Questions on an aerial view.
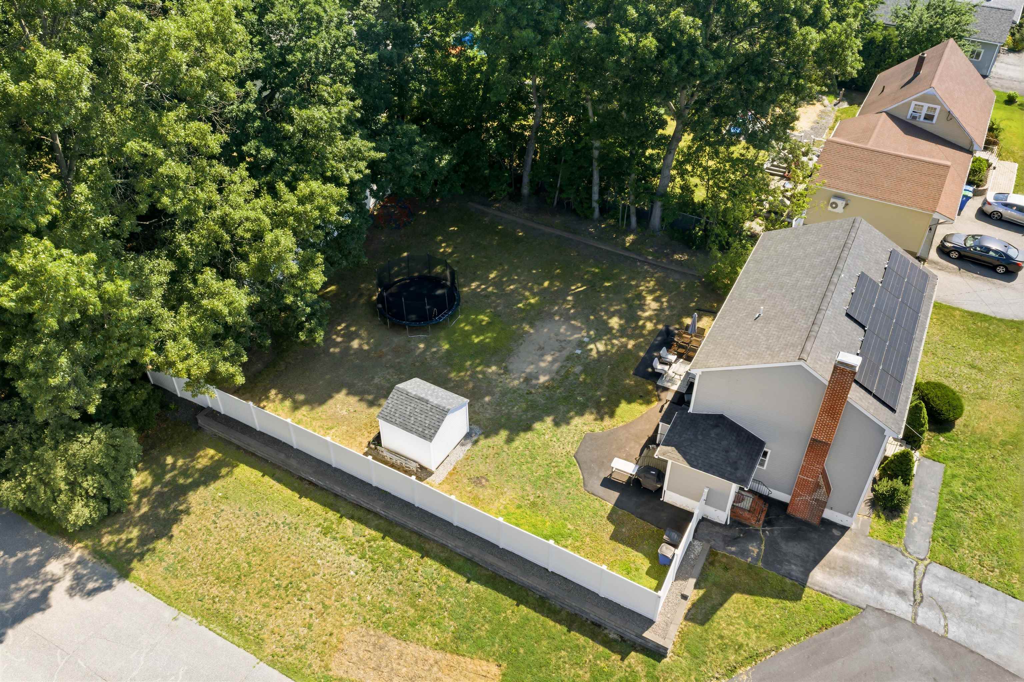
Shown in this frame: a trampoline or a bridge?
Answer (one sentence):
This aerial view contains a trampoline.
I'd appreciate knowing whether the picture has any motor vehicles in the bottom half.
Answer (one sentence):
No, there is no motor vehicle in the bottom half.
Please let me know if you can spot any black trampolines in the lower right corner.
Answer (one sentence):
No, in the lower right corner there is no black trampoline.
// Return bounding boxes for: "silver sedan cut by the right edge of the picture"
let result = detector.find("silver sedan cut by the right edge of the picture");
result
[982,193,1024,226]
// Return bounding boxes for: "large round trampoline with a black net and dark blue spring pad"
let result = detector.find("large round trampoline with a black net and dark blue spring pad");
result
[372,250,462,338]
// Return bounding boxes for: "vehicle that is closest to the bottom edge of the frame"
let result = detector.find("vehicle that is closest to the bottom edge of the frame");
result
[939,231,1024,273]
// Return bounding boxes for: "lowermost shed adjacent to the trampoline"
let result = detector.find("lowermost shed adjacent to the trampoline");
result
[375,379,471,471]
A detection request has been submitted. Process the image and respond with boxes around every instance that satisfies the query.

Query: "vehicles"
[939,231,1024,273]
[982,193,1024,226]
